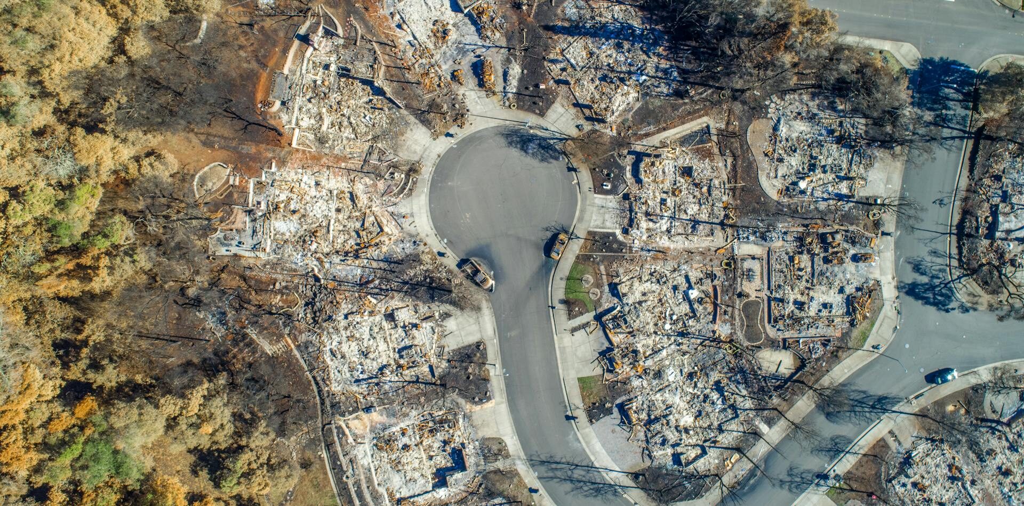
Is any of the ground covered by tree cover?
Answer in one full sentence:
Yes, tree cover shows up in the scene.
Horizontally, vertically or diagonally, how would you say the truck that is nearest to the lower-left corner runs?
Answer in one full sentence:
The truck that is nearest to the lower-left corner is oriented diagonally.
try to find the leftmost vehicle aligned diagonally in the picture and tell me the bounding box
[460,259,492,292]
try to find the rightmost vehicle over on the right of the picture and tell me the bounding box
[933,368,963,386]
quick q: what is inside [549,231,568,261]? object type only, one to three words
car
